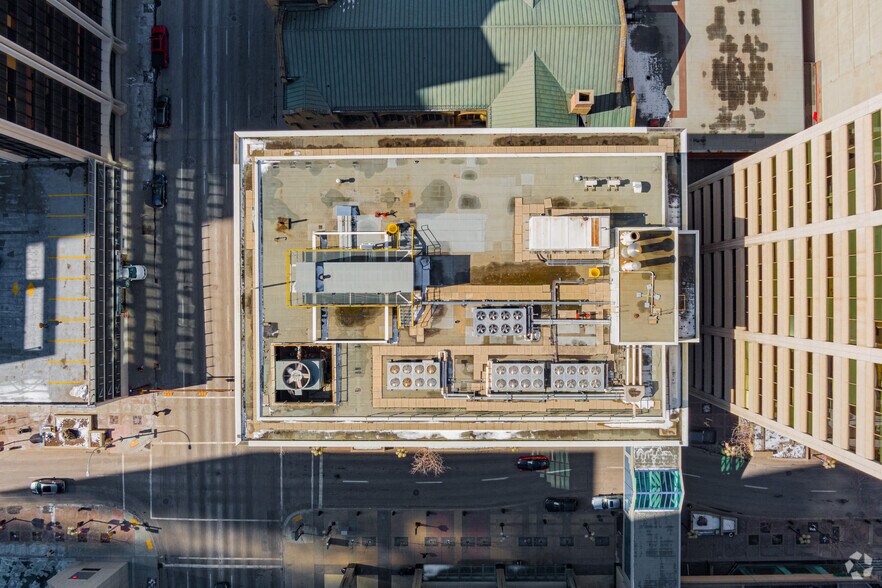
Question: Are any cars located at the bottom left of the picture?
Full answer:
Yes, a car is visible at the bottom left of the picture.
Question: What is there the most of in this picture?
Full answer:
The scene is dominated by buildings.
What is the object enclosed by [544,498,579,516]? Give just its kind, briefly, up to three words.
car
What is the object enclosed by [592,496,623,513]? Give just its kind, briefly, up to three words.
car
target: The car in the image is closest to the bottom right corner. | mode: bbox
[688,430,722,447]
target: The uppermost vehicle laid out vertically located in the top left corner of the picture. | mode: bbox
[149,25,167,66]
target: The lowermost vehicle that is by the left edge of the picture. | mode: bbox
[29,480,65,497]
